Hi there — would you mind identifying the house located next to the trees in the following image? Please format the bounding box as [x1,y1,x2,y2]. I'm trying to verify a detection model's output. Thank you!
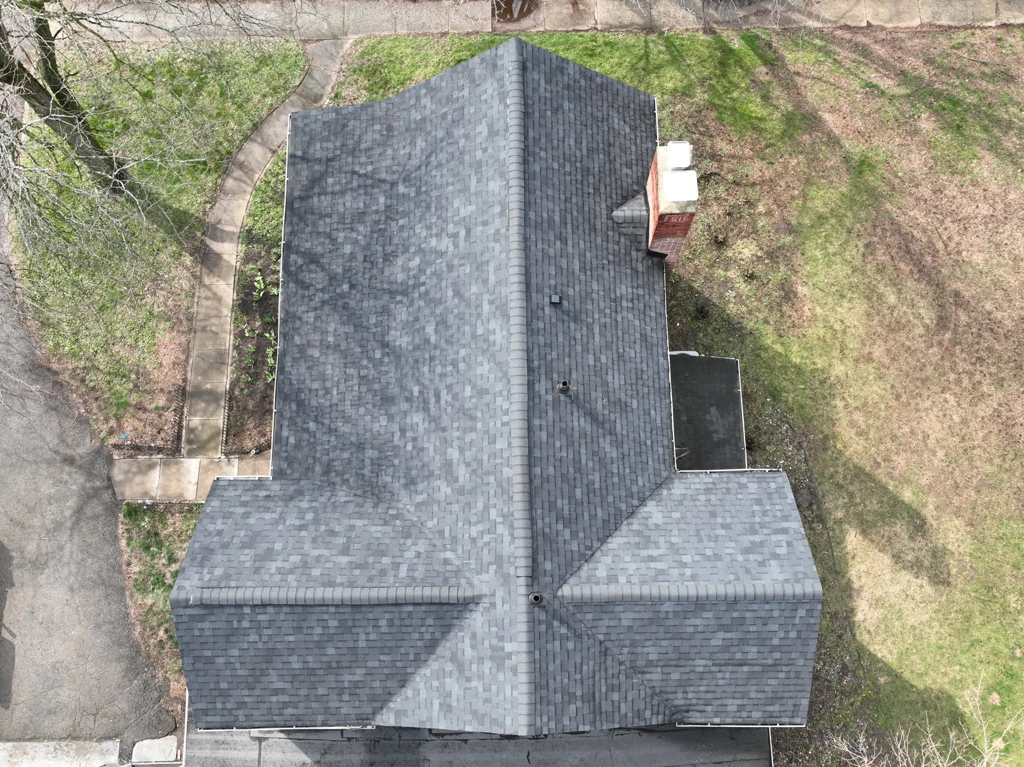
[169,38,825,767]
